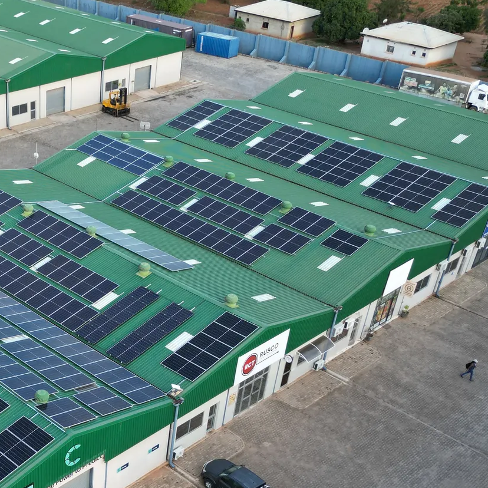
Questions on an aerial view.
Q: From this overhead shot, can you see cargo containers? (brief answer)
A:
Yes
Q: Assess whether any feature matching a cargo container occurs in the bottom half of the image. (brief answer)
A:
No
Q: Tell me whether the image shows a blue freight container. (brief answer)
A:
Yes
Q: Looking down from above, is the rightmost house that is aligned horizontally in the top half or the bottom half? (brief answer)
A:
top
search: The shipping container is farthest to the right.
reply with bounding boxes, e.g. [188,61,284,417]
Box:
[195,33,237,59]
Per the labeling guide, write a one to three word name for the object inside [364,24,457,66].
house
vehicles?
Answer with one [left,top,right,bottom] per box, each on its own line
[102,87,138,120]
[199,456,273,488]
[393,65,488,114]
